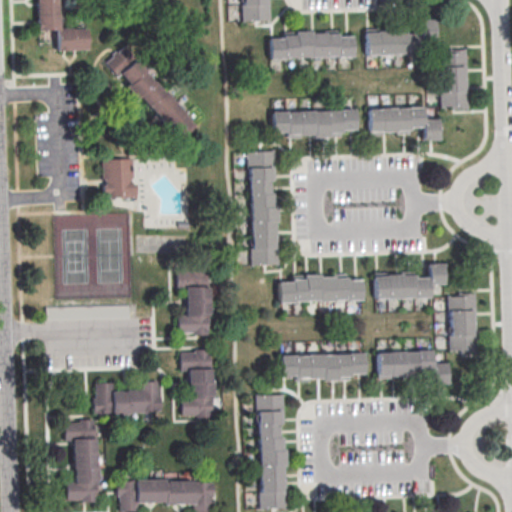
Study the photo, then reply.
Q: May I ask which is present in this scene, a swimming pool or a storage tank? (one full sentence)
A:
I can see a swimming pool in this picture.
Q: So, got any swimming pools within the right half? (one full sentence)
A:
No, no swimming pool appears within the right half.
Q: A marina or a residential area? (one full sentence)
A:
The picture captures a residential area.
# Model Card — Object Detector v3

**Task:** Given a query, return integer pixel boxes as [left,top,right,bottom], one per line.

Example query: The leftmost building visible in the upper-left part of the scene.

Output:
[38,0,93,51]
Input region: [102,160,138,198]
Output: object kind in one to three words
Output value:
house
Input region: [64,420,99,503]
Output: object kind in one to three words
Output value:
house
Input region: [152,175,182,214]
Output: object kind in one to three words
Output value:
swimming pool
